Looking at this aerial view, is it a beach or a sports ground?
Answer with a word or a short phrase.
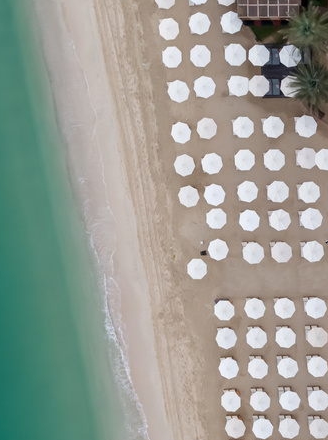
beach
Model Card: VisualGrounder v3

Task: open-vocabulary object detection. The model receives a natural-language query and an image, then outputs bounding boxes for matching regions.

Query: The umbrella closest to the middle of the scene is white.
[178,186,199,206]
